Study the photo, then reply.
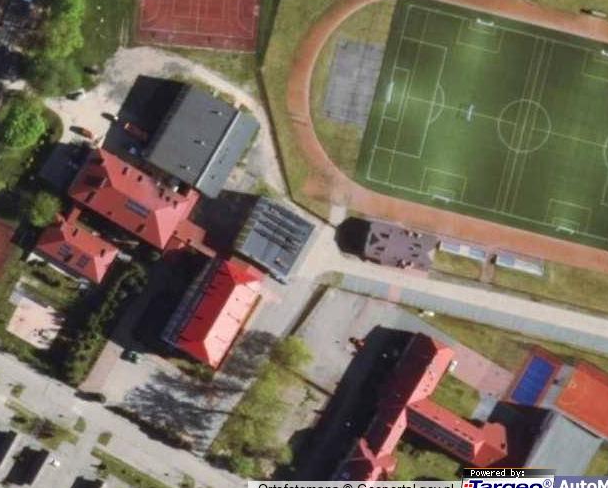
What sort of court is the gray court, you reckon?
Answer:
basketball court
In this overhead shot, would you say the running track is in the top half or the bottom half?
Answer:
top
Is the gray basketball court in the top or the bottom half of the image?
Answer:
top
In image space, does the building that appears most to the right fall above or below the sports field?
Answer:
below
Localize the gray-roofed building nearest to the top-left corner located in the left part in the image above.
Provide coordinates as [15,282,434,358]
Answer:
[148,84,259,197]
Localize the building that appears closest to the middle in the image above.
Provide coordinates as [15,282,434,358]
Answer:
[239,198,316,277]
